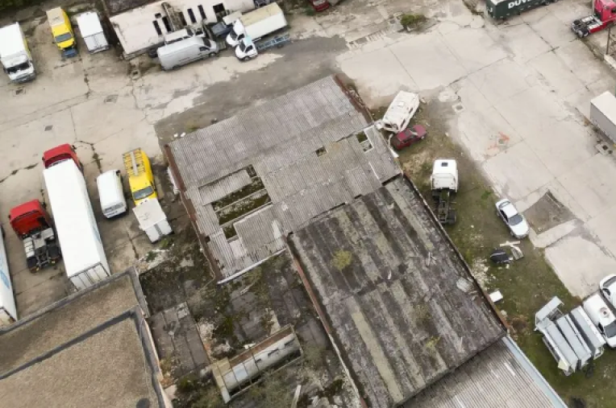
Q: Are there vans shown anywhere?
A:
Yes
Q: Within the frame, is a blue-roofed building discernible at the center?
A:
No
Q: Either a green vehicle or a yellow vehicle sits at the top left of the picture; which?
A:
yellow vehicle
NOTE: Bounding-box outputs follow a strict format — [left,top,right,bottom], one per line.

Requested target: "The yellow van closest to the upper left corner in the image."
[45,7,77,49]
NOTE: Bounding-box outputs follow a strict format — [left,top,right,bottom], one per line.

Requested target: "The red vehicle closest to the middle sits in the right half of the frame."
[387,126,430,151]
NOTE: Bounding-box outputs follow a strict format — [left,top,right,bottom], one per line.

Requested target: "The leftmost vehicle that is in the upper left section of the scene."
[0,19,40,85]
